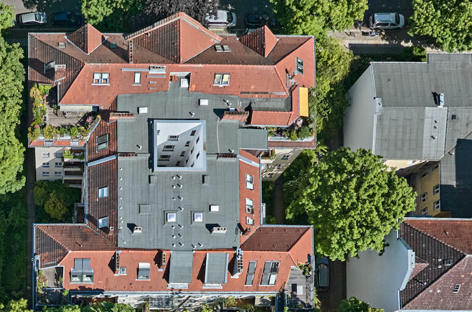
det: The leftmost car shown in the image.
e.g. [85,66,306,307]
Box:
[16,8,48,28]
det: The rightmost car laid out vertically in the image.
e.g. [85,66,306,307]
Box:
[315,256,333,294]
